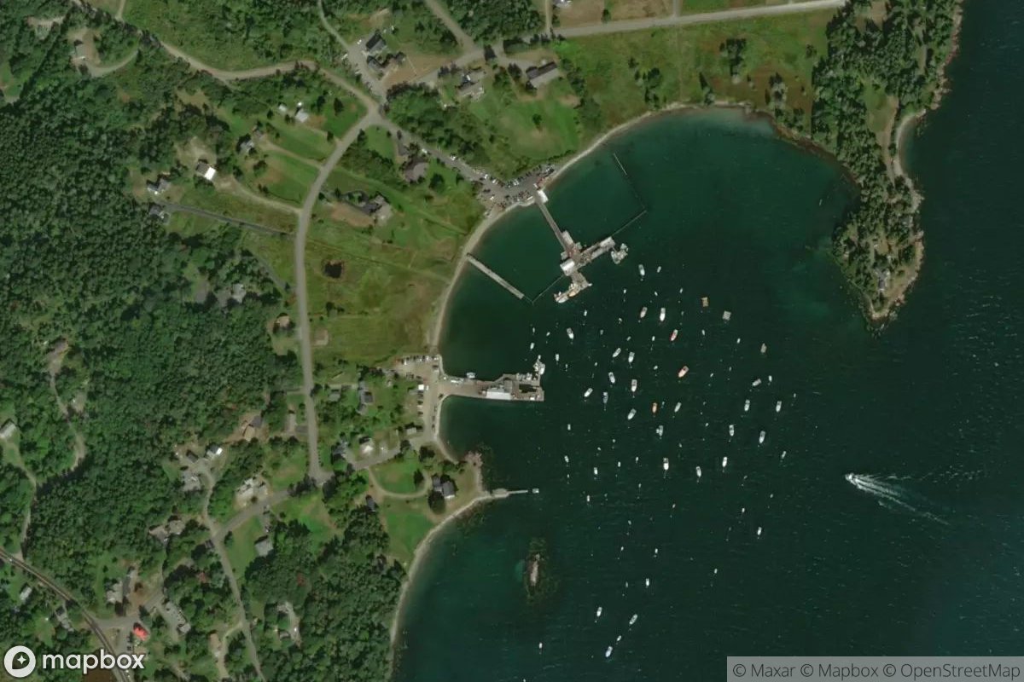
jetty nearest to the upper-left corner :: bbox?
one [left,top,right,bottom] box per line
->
[466,254,525,299]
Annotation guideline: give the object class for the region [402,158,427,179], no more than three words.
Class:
house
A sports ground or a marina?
marina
